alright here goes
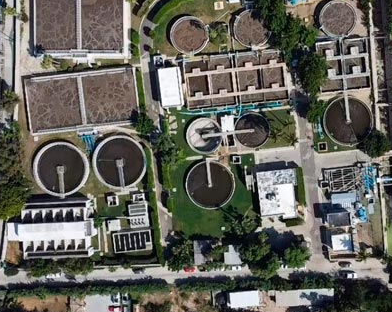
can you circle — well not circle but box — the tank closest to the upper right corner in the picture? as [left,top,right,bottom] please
[317,0,357,39]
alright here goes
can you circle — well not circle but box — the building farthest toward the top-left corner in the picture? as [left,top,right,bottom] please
[157,67,185,107]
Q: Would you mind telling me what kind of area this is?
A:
industrial area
